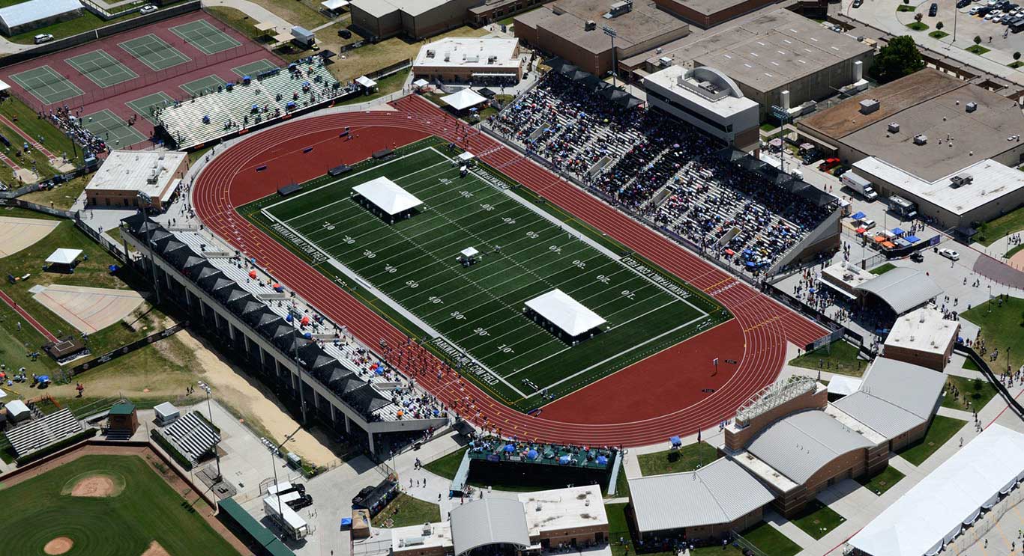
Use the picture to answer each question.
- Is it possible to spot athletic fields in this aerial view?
Yes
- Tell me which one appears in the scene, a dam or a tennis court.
tennis court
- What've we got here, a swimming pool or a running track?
running track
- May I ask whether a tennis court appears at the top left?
Yes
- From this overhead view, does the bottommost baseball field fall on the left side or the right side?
left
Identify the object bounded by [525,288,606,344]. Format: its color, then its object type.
white tent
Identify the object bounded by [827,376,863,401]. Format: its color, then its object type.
white tent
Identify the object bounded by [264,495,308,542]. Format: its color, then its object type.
white trailer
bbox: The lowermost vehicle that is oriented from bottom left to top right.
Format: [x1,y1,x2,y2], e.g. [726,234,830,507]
[350,481,376,502]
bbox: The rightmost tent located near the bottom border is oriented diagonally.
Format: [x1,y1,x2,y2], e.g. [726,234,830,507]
[847,424,1024,556]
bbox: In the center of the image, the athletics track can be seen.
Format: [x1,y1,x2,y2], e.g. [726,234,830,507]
[197,110,786,449]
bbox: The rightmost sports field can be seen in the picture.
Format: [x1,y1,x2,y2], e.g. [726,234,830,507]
[237,135,735,413]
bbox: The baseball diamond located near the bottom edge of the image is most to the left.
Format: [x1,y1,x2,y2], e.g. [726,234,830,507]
[0,455,243,556]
